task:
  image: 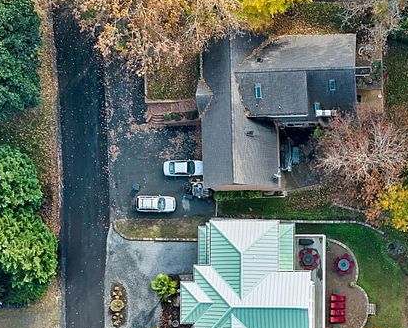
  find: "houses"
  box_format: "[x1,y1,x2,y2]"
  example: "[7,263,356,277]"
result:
[196,20,372,195]
[179,220,328,328]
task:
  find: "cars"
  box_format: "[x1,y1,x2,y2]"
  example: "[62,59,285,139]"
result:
[162,157,204,179]
[133,193,179,215]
